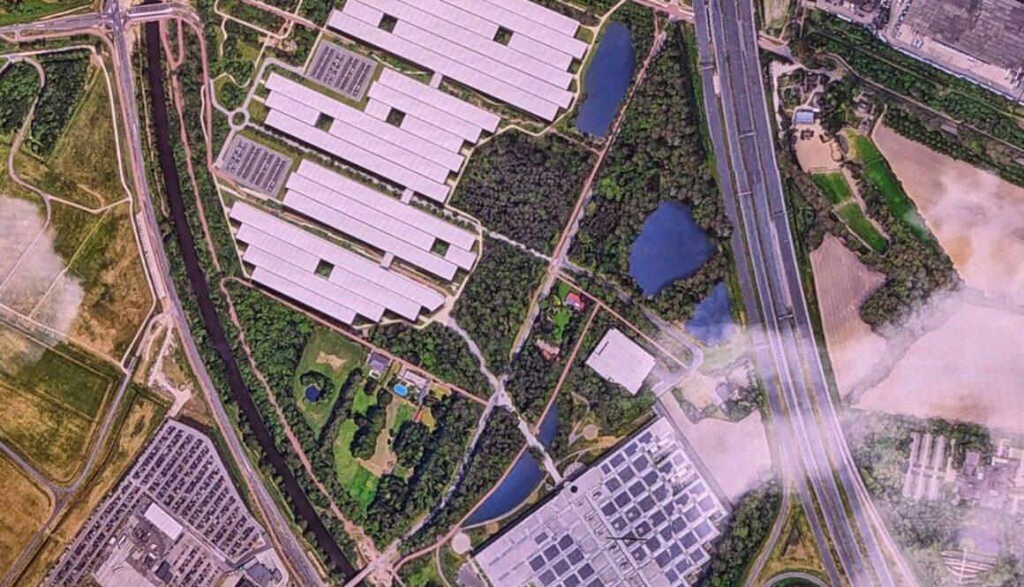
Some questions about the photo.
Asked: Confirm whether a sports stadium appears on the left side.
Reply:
No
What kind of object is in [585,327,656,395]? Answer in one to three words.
building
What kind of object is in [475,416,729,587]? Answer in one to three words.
building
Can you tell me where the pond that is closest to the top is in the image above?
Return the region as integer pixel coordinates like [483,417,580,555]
[576,21,634,136]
